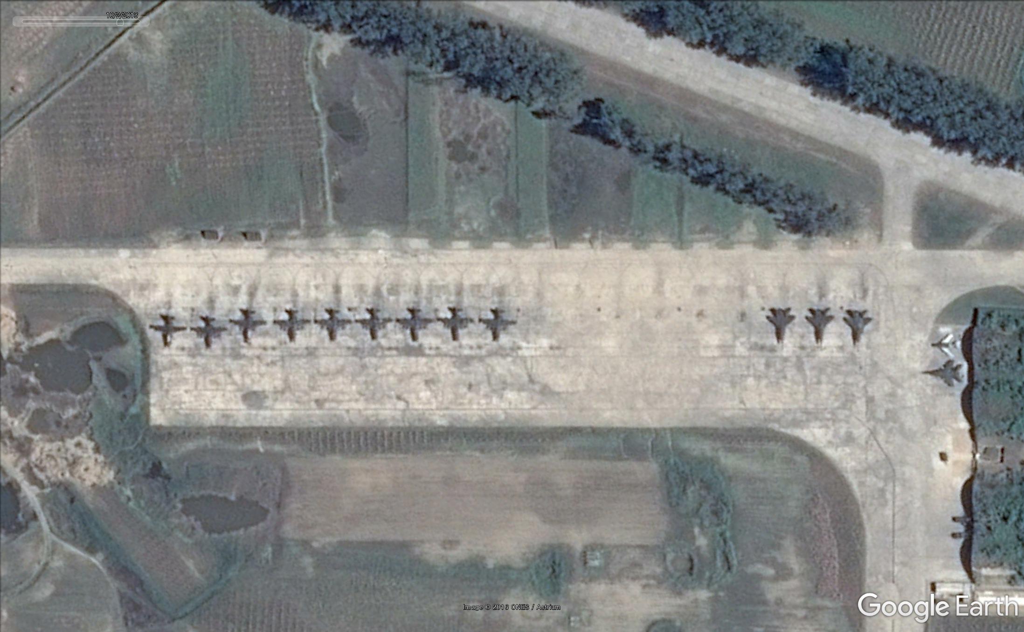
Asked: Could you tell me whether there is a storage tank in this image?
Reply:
No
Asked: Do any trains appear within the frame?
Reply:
No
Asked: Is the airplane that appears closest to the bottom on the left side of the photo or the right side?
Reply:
right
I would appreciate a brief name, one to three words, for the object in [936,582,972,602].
building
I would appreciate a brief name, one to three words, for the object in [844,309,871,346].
airplane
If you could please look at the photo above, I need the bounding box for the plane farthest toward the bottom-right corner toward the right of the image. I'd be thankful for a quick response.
[923,360,960,387]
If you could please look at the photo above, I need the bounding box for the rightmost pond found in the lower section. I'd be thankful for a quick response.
[179,495,273,535]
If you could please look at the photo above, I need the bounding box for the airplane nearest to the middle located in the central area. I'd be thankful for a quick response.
[479,308,513,343]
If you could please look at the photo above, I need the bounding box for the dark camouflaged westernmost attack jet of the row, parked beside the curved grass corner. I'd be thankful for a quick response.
[151,313,185,348]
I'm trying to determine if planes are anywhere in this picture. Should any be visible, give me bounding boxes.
[923,360,960,387]
[767,307,794,347]
[275,308,309,341]
[358,307,392,340]
[479,308,513,343]
[844,309,871,346]
[316,308,350,341]
[230,309,264,341]
[439,307,473,340]
[932,334,959,356]
[192,314,226,347]
[151,313,185,348]
[806,307,833,345]
[399,308,433,343]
